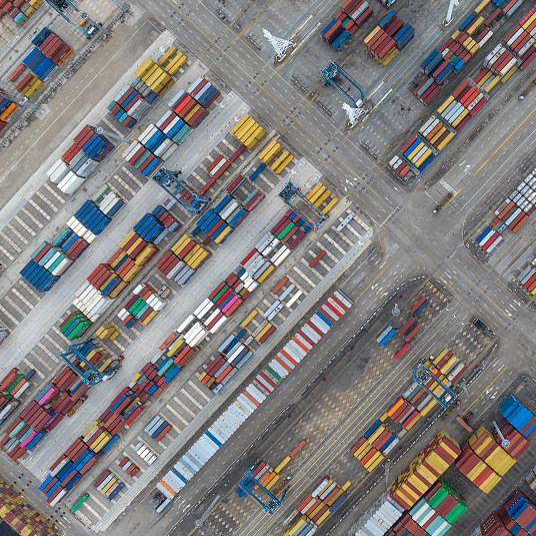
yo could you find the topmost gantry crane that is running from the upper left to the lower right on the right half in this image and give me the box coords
[320,62,366,109]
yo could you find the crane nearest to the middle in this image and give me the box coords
[279,181,331,230]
